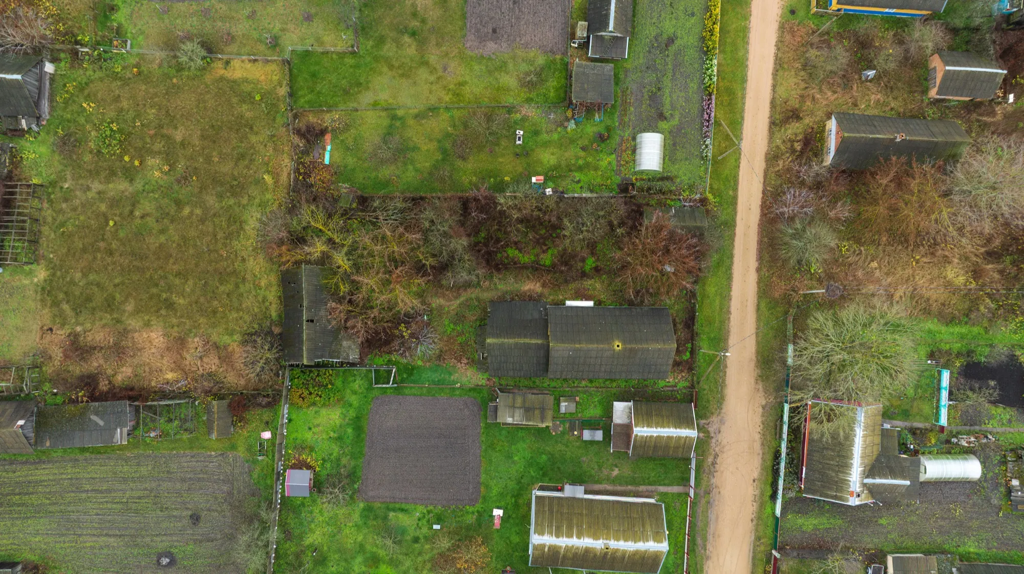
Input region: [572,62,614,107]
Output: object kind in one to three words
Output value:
shed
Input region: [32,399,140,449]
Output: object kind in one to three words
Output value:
barn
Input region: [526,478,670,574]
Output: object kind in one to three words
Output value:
house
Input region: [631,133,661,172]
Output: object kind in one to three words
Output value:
greenhouse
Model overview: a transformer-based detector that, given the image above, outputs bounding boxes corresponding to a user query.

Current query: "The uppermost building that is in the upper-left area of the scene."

[0,56,56,129]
